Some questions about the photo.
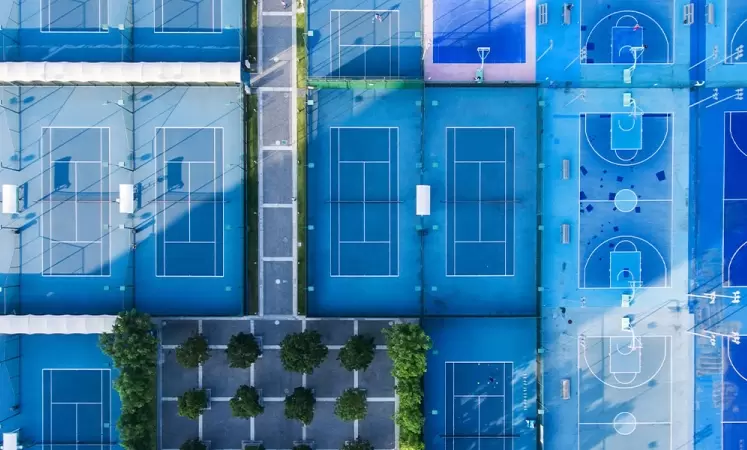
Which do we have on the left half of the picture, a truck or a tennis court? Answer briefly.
tennis court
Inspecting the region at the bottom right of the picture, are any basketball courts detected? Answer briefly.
Yes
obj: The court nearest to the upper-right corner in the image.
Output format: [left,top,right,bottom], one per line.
[690,0,747,88]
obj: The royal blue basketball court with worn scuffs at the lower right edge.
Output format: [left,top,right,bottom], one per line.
[694,312,747,450]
